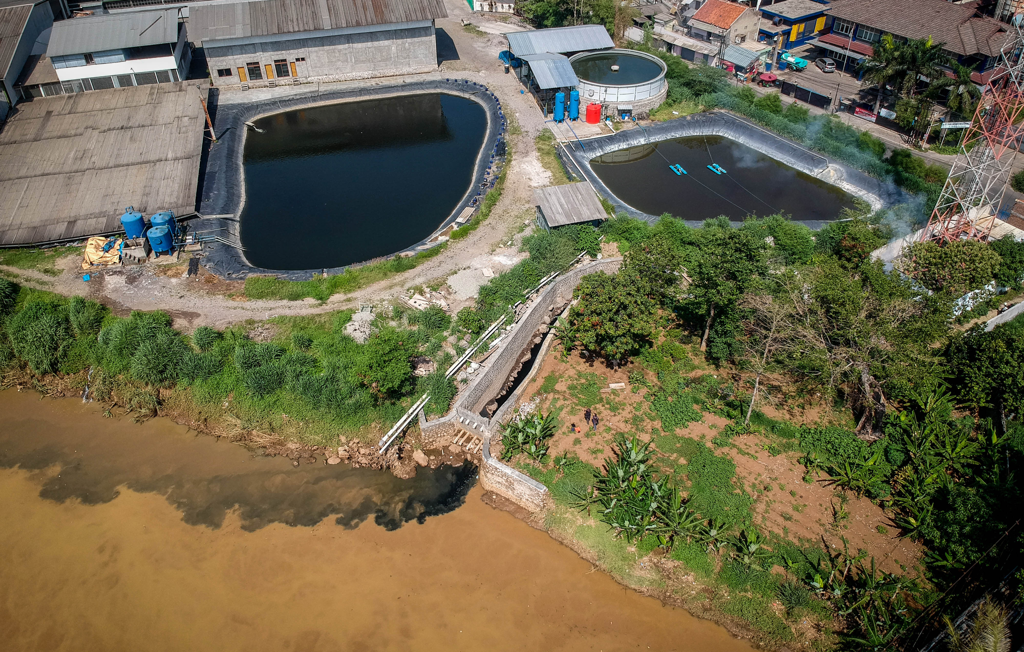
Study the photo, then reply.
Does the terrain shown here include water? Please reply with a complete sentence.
Yes, there is water in the image.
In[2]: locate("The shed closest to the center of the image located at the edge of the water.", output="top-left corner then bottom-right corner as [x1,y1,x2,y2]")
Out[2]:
[533,181,609,231]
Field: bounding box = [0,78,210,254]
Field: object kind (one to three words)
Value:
shed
